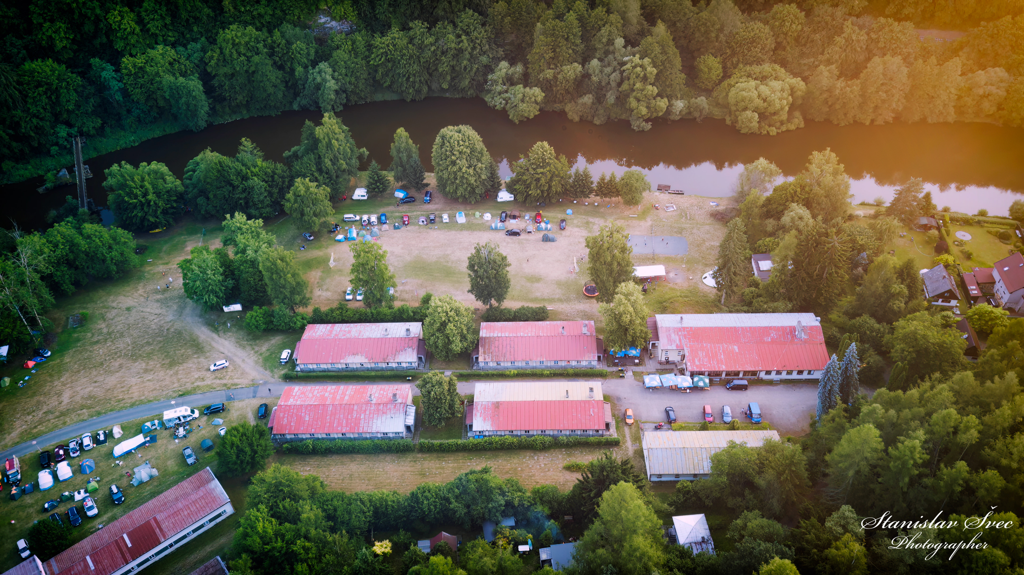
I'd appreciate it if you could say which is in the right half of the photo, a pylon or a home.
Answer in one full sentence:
What appears in the right half of the photo is a home.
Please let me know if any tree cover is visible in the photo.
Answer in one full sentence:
Yes, tree cover can be seen from above here.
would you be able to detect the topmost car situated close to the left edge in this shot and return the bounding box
[32,347,52,359]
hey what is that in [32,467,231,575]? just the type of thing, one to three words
barn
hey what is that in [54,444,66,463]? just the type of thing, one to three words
vehicle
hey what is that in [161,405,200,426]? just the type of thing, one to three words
camper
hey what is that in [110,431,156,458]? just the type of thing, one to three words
tent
